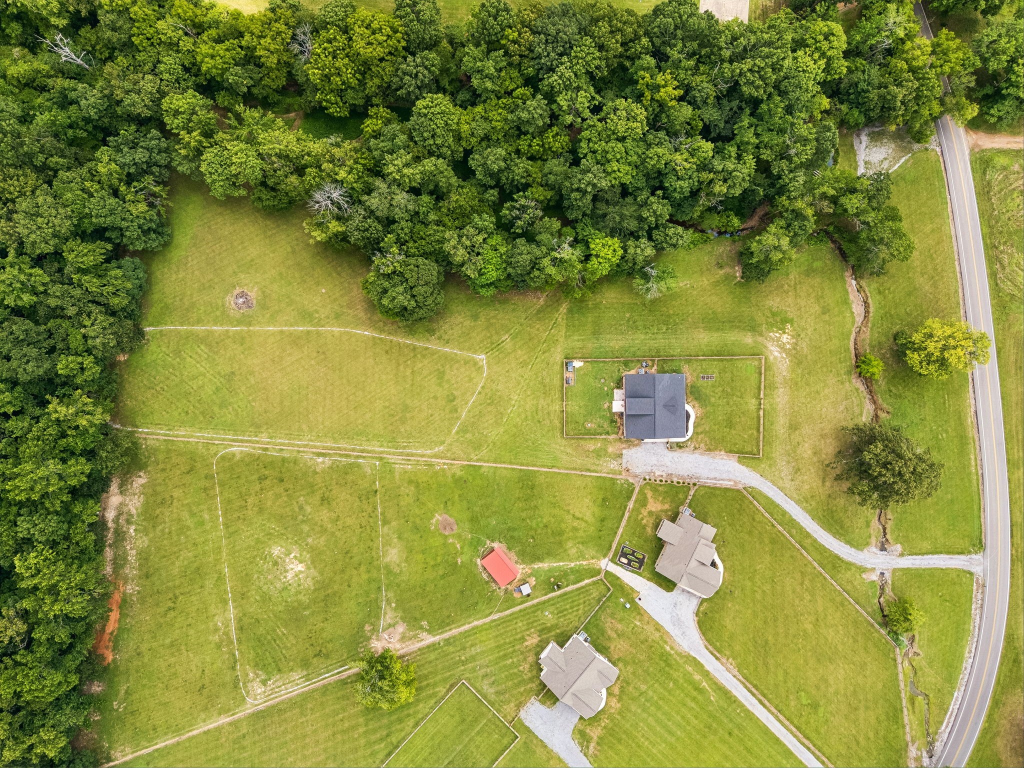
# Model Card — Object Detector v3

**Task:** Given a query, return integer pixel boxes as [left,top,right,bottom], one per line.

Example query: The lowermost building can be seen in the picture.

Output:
[538,633,620,720]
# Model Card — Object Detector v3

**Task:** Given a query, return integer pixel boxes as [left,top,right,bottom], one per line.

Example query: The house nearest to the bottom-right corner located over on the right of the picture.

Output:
[654,513,721,598]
